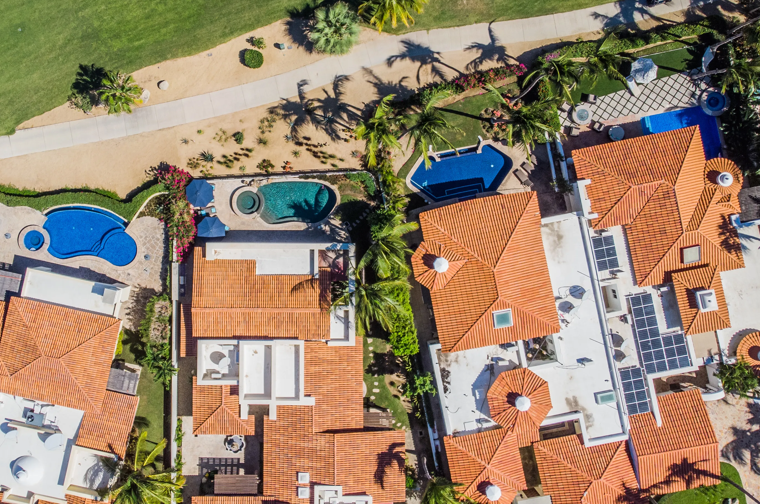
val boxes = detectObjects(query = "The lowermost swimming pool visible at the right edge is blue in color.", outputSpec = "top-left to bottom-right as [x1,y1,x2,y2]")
[637,103,725,163]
